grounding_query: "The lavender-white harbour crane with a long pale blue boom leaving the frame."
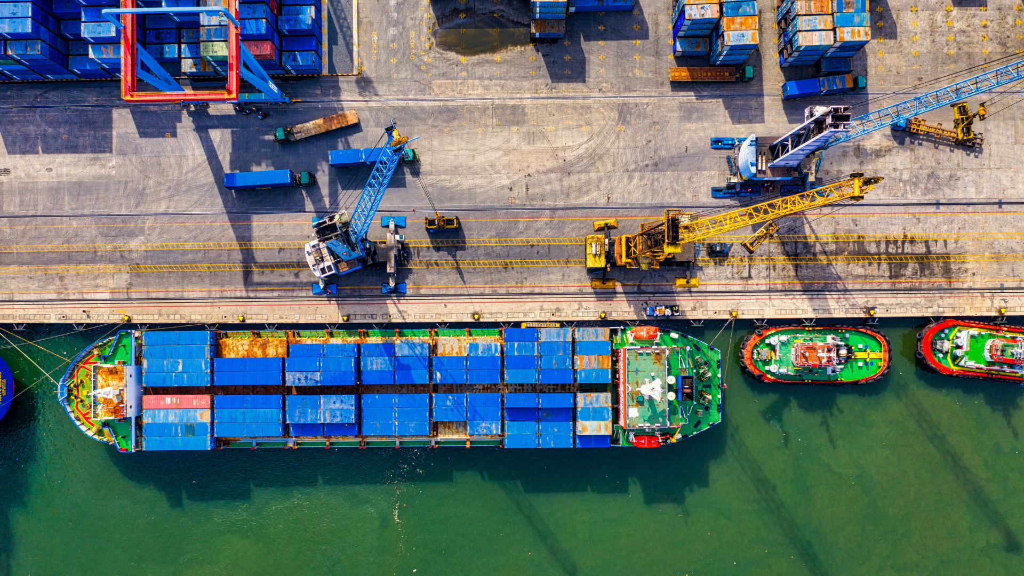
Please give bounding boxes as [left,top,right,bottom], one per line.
[710,43,1024,198]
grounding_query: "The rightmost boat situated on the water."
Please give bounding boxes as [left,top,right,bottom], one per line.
[914,318,1024,383]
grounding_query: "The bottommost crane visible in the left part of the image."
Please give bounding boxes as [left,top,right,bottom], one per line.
[303,117,437,295]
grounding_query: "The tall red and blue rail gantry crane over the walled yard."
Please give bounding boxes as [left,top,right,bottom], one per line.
[103,0,321,110]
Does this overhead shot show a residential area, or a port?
port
